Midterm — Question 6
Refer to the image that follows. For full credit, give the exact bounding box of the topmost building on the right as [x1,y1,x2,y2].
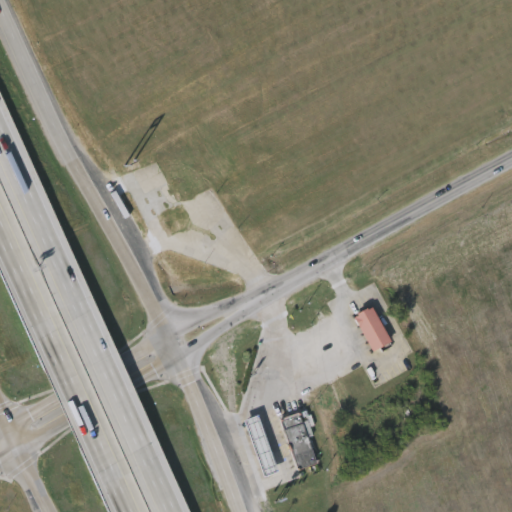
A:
[356,309,392,352]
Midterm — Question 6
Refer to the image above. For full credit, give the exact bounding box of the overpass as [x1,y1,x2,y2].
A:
[0,92,190,512]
